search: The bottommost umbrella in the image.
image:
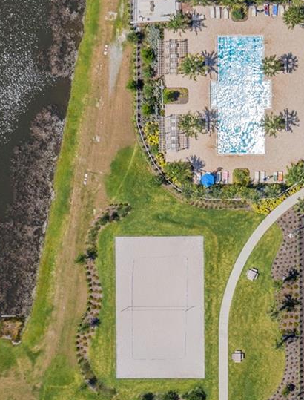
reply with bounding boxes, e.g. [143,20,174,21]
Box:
[201,172,216,187]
